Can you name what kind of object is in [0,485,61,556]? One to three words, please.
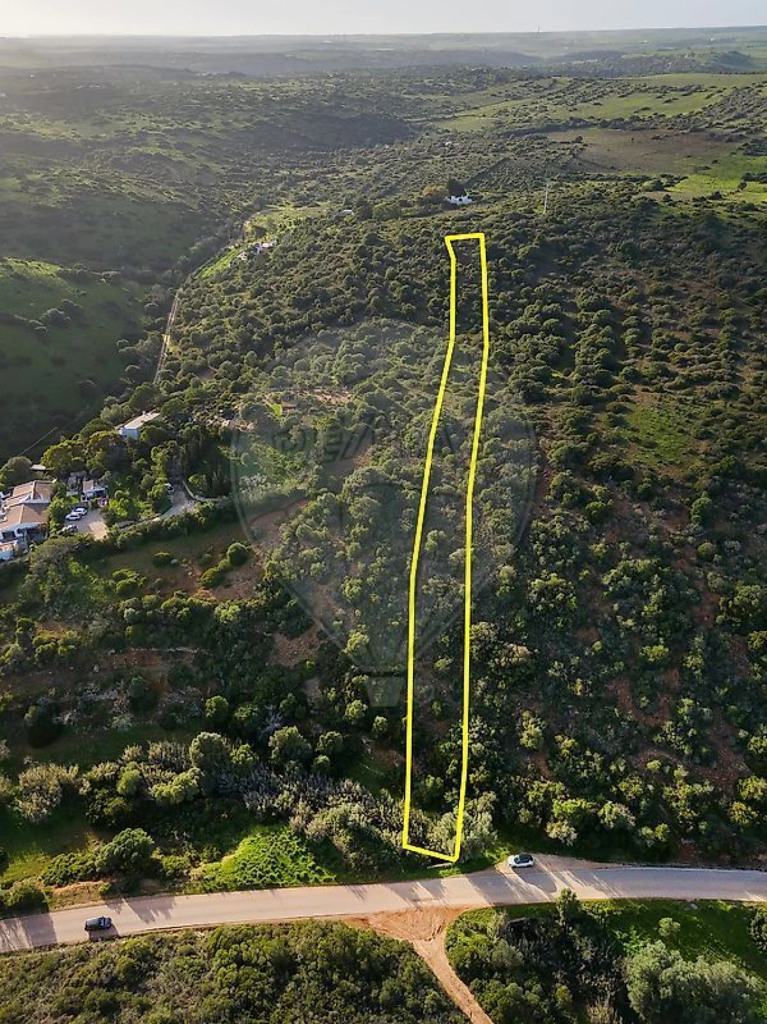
house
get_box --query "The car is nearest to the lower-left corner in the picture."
[83,919,113,935]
